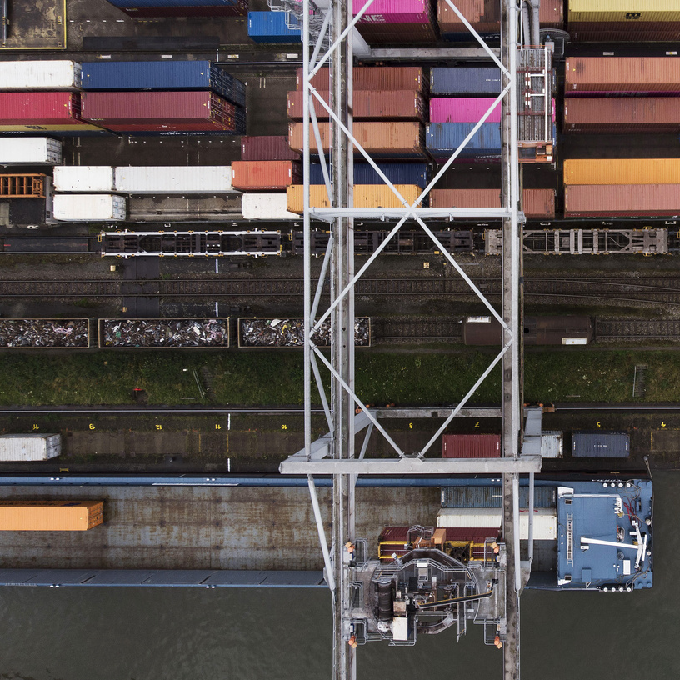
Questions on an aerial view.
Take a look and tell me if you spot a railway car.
Yes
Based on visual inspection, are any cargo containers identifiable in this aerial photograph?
Yes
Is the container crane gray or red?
gray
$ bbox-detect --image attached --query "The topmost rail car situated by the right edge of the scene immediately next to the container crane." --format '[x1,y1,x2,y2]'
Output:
[480,227,673,256]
